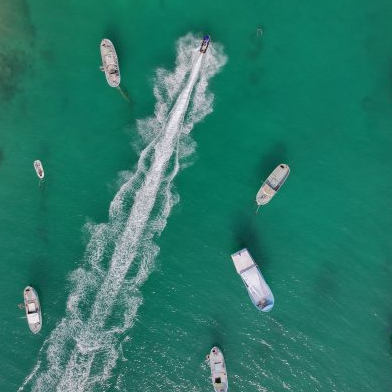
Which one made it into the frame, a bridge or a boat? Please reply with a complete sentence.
I can see a boat in this picture.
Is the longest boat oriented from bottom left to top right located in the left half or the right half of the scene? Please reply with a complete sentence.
The longest boat oriented from bottom left to top right is on the right side of the image.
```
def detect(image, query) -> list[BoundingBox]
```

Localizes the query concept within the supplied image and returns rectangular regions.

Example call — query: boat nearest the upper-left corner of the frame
[99,38,130,104]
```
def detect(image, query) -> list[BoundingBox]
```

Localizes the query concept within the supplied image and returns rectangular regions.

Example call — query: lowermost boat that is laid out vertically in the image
[207,345,228,392]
